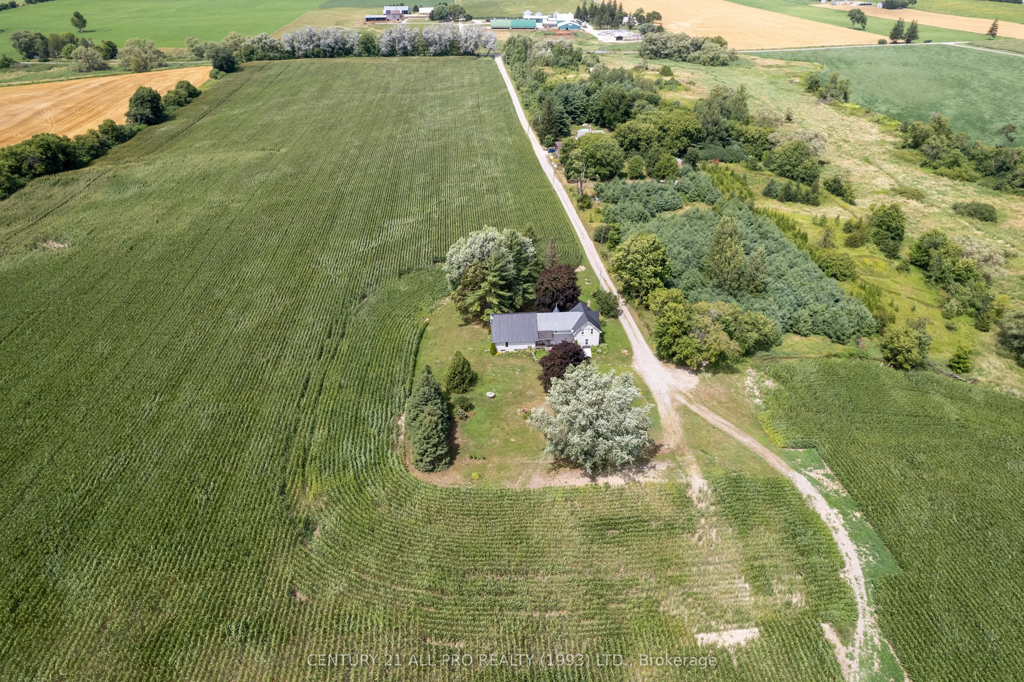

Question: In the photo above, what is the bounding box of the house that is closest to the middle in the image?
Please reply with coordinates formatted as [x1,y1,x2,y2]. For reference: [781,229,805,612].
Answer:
[489,299,603,351]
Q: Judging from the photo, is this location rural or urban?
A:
rural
